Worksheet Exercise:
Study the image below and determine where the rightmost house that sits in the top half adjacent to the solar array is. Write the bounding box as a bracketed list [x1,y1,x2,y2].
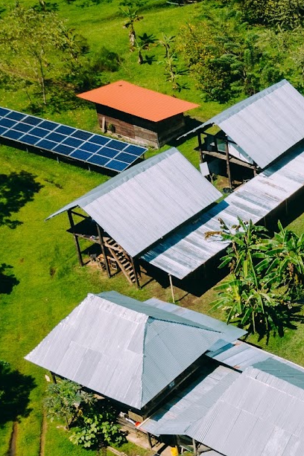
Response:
[171,78,304,188]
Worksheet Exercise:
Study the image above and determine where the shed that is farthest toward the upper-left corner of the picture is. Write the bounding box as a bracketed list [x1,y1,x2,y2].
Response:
[77,79,197,149]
